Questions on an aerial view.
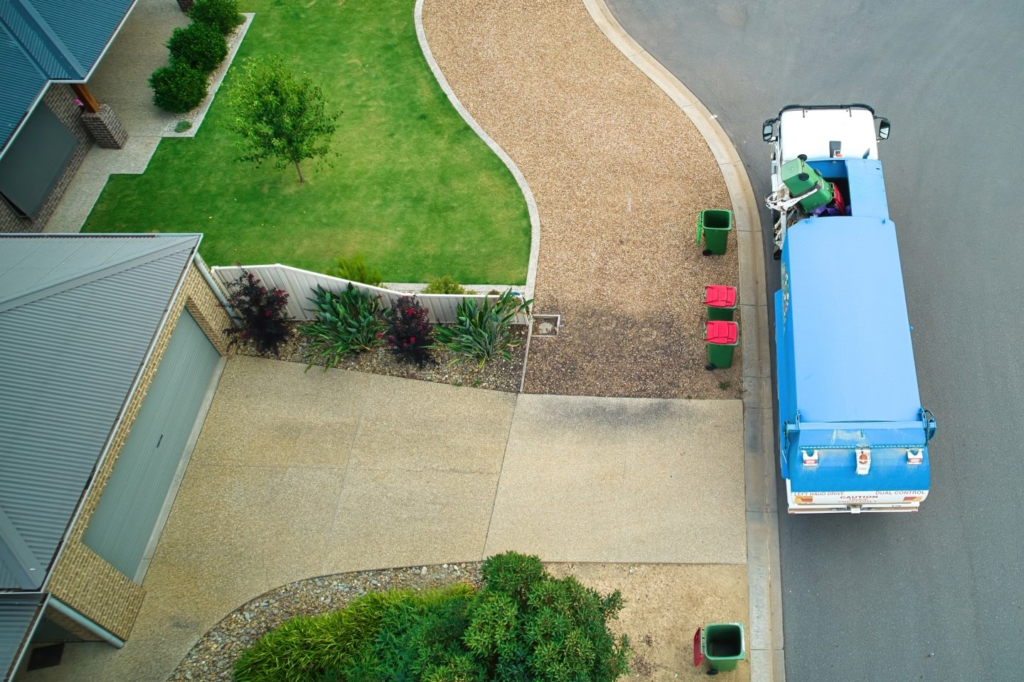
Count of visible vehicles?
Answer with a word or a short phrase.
1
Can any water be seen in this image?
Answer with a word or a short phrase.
No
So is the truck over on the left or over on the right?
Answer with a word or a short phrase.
right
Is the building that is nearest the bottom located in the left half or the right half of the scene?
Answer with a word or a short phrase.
left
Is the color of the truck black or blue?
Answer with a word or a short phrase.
blue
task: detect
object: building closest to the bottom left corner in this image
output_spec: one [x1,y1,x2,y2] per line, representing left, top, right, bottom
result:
[0,227,242,682]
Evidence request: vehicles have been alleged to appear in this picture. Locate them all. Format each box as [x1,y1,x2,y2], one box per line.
[763,106,940,520]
